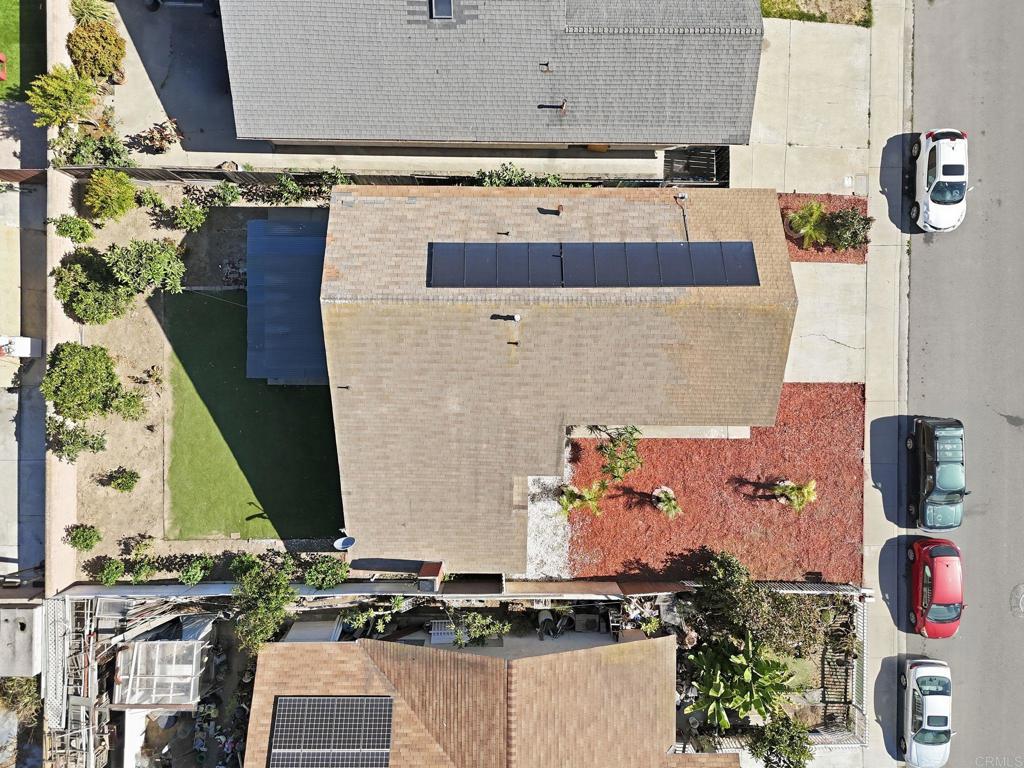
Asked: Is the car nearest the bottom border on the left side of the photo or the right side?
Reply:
right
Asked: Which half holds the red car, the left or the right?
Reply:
right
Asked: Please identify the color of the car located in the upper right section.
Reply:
white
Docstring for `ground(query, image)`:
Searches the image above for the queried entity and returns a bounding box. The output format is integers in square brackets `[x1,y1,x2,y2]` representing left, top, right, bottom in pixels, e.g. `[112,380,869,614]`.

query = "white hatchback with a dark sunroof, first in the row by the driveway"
[911,129,974,234]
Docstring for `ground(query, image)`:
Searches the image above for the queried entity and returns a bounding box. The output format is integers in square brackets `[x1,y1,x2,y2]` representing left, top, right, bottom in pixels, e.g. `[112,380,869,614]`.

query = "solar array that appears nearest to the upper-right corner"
[431,243,759,290]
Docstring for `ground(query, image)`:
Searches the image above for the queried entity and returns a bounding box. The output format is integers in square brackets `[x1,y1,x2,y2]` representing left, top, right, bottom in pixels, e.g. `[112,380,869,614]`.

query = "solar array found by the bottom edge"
[265,696,391,768]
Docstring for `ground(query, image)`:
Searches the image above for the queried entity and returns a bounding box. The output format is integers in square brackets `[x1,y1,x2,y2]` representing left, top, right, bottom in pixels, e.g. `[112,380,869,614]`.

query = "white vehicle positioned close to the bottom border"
[899,653,958,768]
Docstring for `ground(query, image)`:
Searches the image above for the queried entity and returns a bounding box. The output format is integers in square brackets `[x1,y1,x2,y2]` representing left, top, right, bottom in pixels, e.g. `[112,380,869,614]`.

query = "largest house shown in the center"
[319,185,798,590]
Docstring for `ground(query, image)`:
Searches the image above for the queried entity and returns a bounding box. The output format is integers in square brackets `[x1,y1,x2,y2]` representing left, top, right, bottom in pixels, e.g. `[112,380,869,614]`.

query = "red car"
[908,535,968,637]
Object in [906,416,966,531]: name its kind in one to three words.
car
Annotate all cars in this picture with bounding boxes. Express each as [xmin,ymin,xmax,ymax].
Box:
[906,416,966,531]
[911,129,974,234]
[899,653,958,768]
[908,535,968,637]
